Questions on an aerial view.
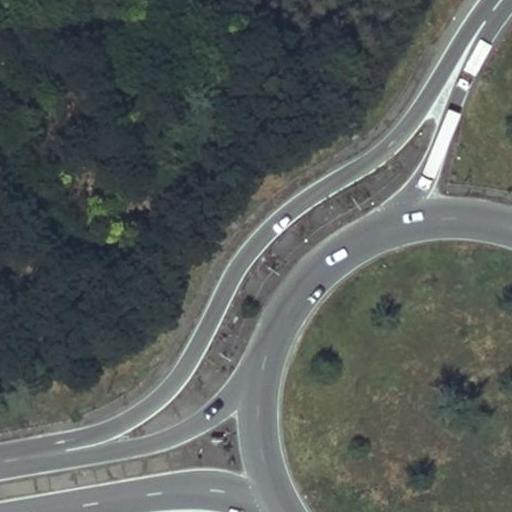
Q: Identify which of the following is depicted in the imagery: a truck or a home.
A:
truck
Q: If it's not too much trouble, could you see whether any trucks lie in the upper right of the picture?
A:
Yes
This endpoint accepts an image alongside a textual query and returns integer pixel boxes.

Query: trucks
[416,104,462,192]
[455,39,492,92]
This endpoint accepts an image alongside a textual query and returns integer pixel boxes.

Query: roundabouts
[225,196,512,512]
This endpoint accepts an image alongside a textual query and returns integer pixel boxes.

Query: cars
[202,399,224,418]
[324,248,349,266]
[307,284,325,305]
[274,216,292,234]
[402,212,424,223]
